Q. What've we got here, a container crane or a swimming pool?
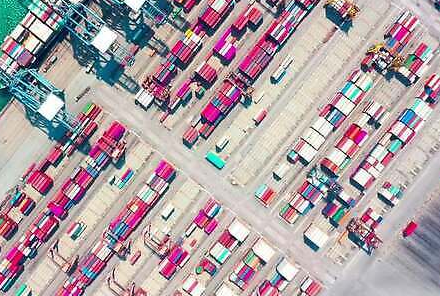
container crane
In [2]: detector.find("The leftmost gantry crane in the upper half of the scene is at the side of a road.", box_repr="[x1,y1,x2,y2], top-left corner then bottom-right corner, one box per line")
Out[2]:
[0,58,76,128]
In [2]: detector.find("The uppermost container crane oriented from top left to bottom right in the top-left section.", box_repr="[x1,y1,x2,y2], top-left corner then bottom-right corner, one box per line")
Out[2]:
[47,0,130,62]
